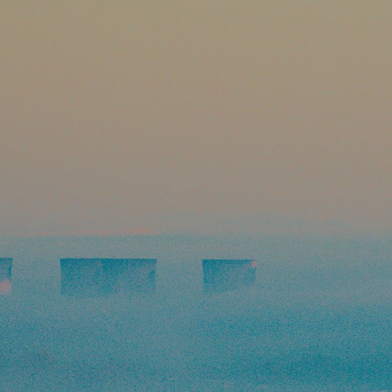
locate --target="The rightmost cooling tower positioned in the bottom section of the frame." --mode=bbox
[188,260,271,354]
